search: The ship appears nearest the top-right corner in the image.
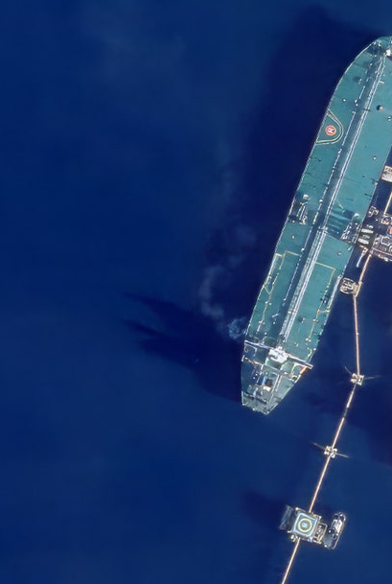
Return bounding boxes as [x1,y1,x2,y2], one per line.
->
[240,35,392,414]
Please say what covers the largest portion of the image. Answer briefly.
water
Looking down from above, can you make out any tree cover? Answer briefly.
No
